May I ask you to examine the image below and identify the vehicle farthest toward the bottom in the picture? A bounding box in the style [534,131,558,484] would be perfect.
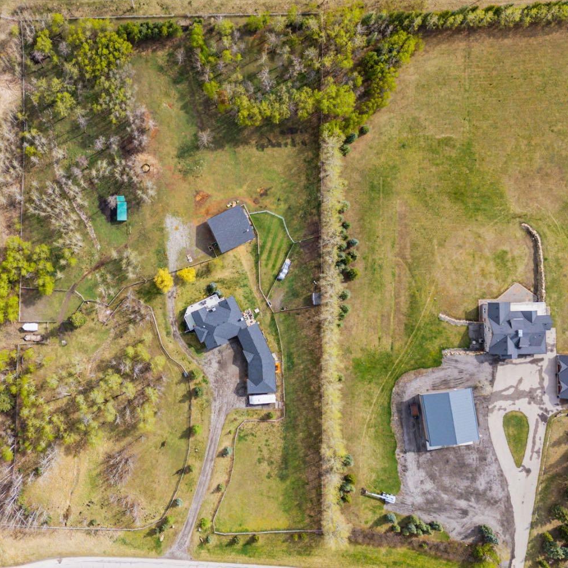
[361,486,398,504]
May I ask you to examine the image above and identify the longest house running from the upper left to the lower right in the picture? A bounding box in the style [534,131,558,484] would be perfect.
[185,295,276,394]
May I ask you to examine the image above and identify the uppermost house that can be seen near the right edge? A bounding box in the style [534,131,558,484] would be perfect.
[480,302,553,359]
